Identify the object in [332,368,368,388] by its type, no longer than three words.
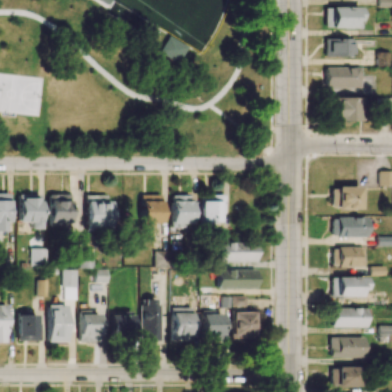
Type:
house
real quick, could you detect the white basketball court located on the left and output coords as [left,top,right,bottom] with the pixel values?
[0,74,44,117]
